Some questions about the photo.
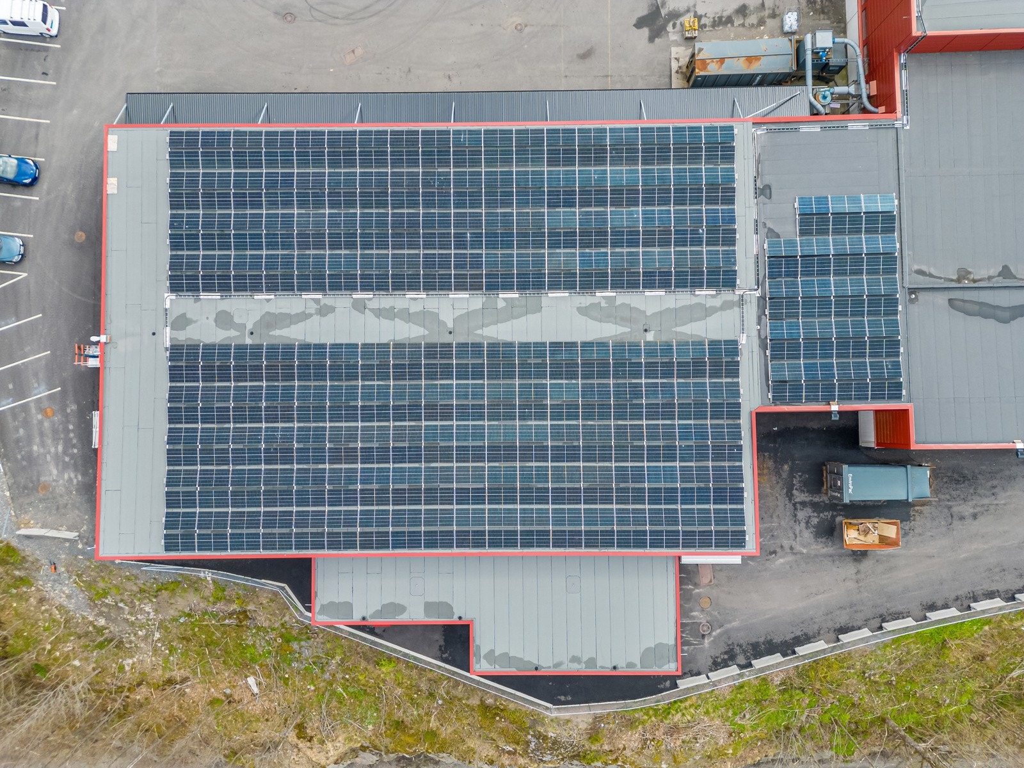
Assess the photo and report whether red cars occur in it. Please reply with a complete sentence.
No, this view has no red car in it.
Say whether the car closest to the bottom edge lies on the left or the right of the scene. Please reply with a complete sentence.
The car closest to the bottom edge is on the left side of the image.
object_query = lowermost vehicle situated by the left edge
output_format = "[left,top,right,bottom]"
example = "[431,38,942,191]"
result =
[0,234,27,265]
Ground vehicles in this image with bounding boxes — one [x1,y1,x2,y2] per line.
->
[0,150,43,187]
[0,0,64,41]
[0,234,27,265]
